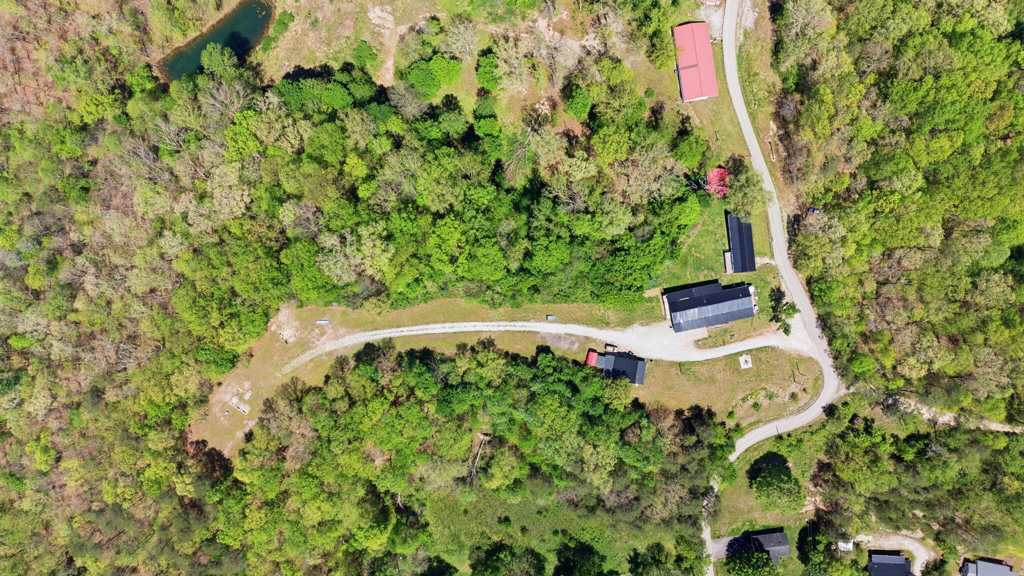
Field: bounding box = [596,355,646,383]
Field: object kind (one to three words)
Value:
building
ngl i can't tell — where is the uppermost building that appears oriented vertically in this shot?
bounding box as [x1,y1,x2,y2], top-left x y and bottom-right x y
[673,21,717,100]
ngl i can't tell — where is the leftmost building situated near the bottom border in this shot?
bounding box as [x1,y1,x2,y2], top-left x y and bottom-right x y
[749,531,790,564]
